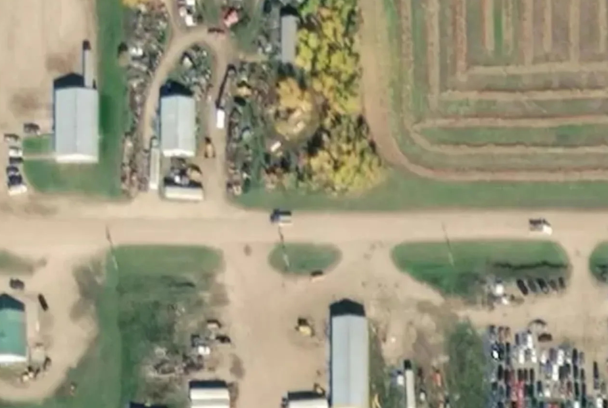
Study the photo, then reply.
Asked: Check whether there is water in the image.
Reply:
No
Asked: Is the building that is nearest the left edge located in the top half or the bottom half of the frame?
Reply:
bottom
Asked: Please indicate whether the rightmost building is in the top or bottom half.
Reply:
bottom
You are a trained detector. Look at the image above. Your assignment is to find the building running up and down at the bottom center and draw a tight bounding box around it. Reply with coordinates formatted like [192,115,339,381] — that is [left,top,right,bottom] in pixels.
[332,314,369,408]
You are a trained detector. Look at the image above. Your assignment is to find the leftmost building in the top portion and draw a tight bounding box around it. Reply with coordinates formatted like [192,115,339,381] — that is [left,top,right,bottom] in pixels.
[55,86,100,163]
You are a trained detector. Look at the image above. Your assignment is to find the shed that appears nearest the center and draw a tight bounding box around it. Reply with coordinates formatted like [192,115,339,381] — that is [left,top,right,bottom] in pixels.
[164,186,203,199]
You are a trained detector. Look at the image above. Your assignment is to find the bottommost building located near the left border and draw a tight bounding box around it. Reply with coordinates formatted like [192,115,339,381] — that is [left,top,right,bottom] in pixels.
[0,310,28,361]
